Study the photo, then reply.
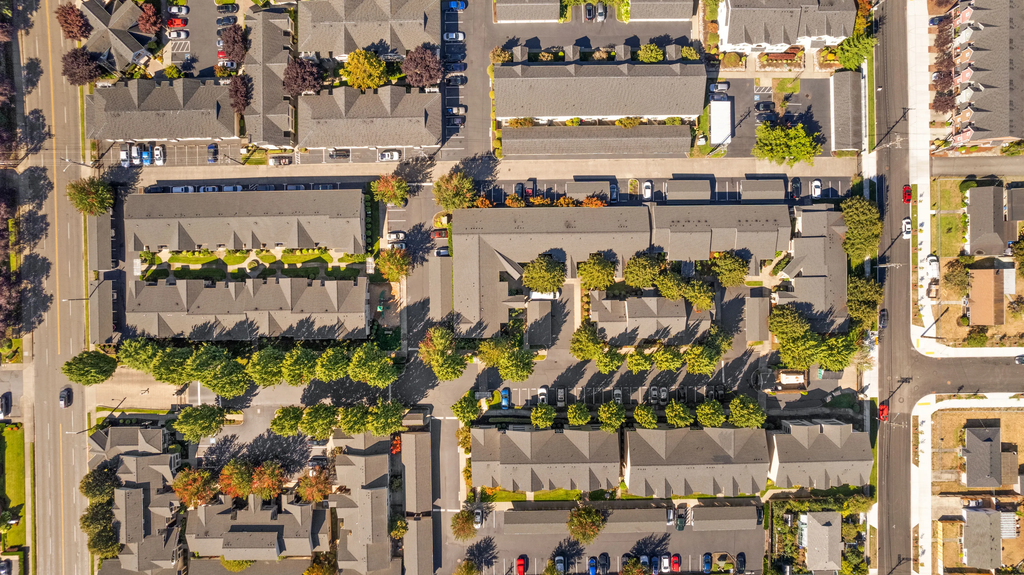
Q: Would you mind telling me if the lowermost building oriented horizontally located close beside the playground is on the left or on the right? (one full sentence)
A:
It is on the left.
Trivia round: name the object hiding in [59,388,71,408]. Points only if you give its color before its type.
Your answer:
gray vehicle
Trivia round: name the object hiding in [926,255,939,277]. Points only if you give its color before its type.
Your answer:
white vehicle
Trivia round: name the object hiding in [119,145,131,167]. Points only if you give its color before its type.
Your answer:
gray vehicle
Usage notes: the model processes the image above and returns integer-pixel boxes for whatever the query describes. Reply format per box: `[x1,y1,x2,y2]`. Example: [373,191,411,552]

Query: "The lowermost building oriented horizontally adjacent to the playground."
[123,277,370,340]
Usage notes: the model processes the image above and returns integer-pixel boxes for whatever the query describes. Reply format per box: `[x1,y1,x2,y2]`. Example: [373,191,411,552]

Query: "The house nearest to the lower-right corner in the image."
[958,508,1002,571]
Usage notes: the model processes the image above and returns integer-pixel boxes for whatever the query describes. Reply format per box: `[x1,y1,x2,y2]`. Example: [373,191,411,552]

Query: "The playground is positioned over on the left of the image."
[369,283,400,327]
